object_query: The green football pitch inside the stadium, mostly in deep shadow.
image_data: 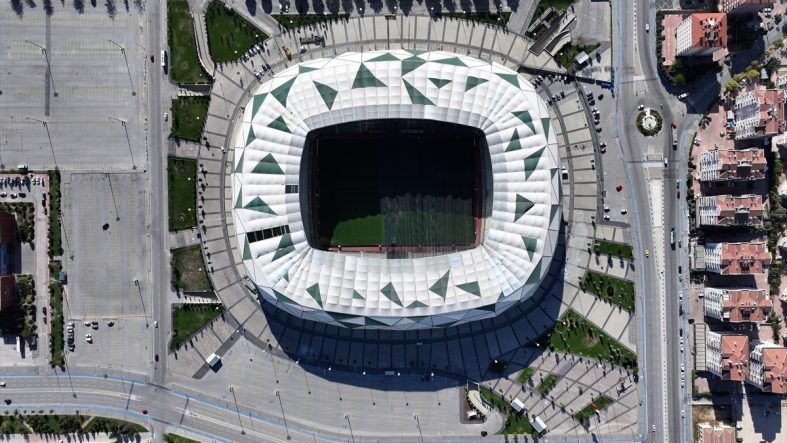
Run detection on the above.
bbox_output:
[318,136,479,251]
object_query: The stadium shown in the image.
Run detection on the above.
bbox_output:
[231,48,562,330]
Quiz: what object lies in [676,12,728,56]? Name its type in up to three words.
building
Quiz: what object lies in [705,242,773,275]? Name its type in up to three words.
building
